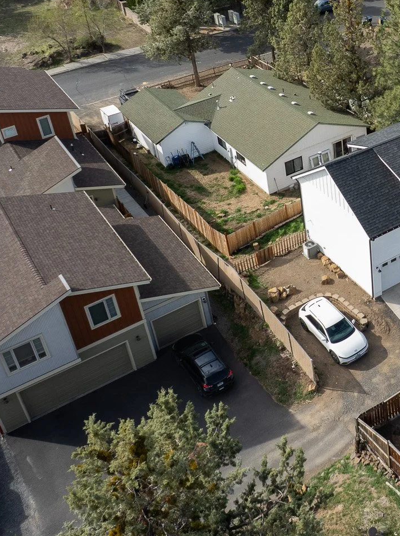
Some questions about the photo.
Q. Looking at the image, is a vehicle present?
Yes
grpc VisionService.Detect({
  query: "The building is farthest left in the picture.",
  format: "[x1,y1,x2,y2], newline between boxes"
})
[0,69,224,434]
